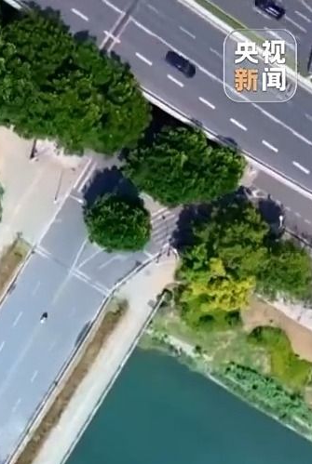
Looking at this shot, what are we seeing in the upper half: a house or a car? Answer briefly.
car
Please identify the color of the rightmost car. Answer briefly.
black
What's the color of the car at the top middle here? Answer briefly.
black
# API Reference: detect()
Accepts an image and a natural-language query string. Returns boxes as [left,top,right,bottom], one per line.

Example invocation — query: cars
[162,50,197,79]
[250,0,286,23]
